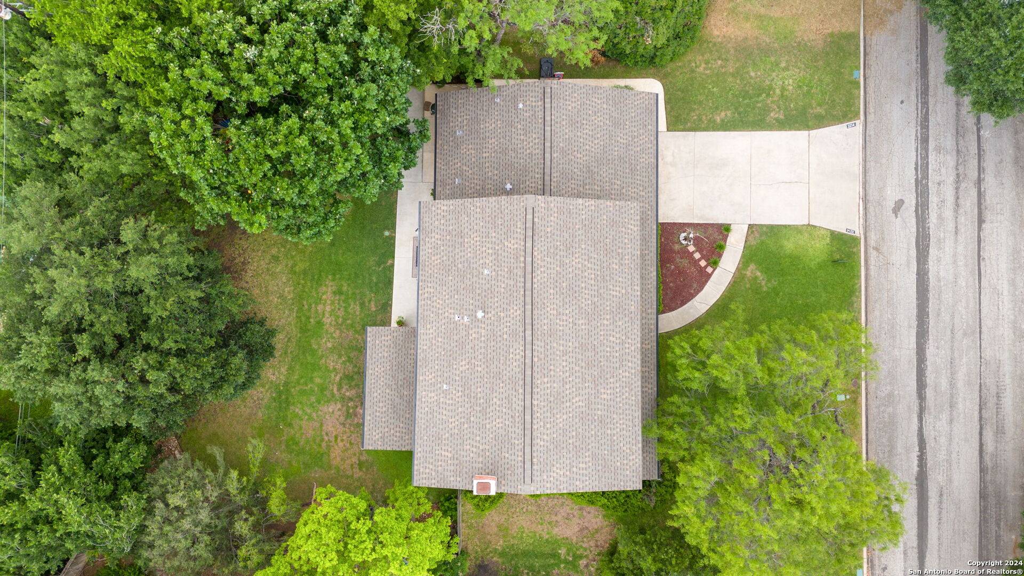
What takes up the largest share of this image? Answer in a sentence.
The scene is dominated by trees.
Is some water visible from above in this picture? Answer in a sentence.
No, the scene doesn't show any water.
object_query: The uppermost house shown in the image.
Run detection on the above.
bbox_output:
[361,79,664,495]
